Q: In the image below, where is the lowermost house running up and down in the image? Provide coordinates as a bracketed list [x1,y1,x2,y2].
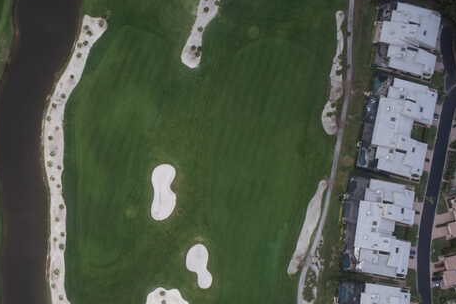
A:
[441,255,456,291]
